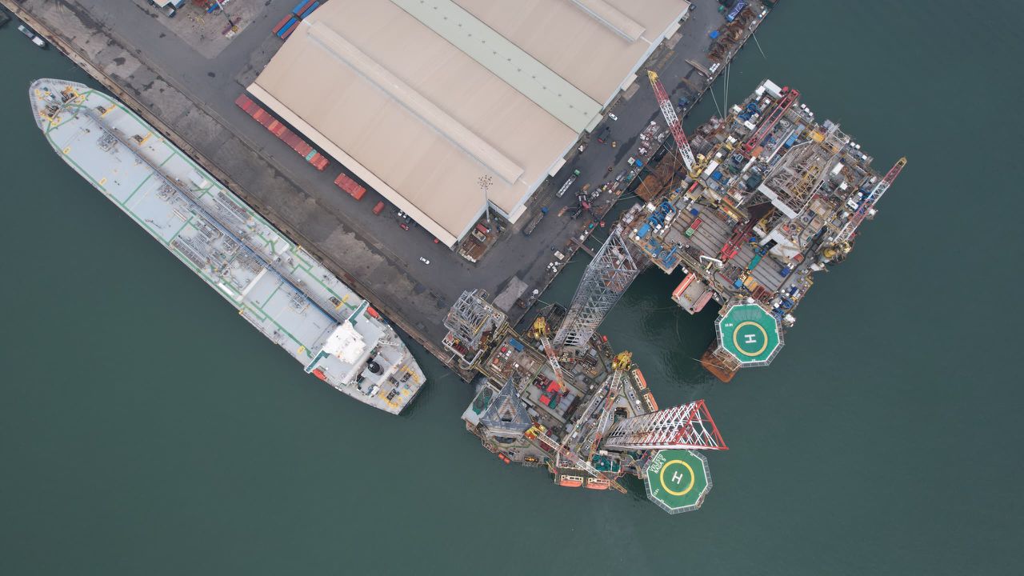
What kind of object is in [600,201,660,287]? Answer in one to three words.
ship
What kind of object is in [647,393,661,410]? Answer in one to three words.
boat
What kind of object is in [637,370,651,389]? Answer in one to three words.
boat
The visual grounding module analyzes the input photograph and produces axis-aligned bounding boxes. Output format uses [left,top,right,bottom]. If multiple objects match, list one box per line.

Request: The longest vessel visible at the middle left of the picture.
[25,76,427,415]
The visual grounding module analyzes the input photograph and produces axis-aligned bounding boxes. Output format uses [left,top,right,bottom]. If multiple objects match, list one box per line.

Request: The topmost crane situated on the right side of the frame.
[649,71,714,180]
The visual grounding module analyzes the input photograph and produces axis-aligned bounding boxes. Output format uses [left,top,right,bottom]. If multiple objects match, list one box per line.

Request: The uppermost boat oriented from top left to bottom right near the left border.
[20,27,42,45]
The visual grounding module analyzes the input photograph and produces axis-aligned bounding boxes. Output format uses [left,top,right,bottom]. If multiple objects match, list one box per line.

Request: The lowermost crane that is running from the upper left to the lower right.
[525,424,629,492]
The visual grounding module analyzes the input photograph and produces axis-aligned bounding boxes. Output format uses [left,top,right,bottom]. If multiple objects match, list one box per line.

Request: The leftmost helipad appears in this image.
[641,449,713,515]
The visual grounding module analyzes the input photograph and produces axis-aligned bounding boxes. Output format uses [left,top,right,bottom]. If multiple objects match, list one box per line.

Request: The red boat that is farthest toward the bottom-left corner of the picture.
[310,368,330,383]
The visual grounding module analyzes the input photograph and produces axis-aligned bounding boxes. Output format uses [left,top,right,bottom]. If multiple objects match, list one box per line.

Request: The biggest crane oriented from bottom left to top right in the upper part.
[831,159,906,256]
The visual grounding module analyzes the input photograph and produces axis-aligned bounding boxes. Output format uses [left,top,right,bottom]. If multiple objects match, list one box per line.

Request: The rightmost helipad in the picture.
[714,298,785,369]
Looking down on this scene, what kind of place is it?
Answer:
port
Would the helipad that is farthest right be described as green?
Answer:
Yes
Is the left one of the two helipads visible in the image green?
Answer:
Yes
